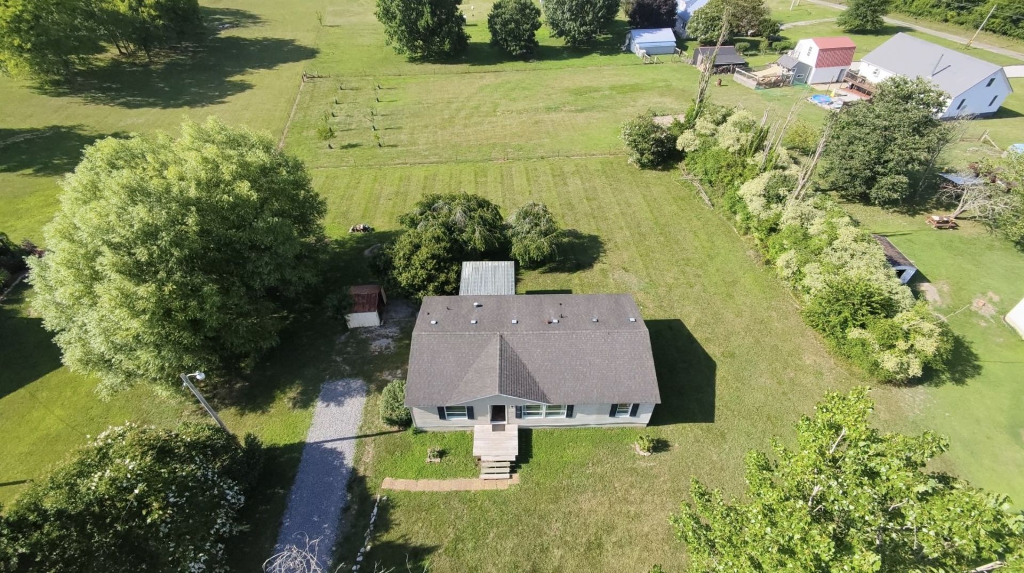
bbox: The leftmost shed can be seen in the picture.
[344,288,391,327]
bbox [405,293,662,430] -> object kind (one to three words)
house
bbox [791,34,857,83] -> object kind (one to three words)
barn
